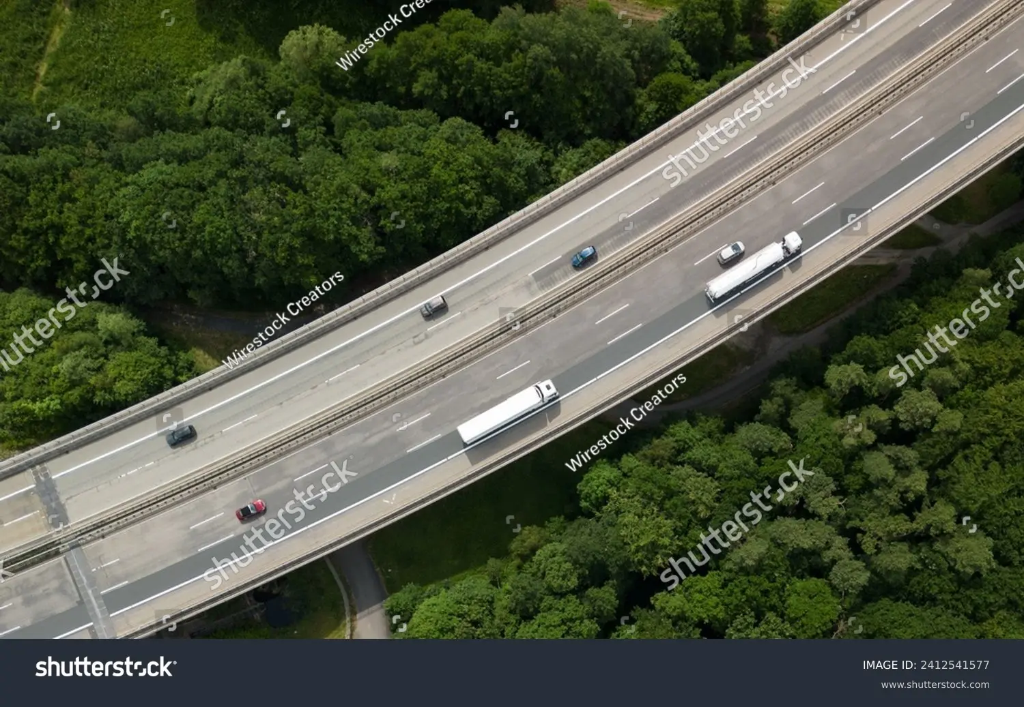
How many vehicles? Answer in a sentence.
The photo contains 7 vehicles.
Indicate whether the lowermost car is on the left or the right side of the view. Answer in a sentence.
The lowermost car is on the left side of the image.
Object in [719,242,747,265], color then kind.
white car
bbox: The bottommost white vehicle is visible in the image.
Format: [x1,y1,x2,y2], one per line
[457,377,560,445]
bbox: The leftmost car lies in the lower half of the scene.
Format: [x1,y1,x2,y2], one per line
[166,425,198,447]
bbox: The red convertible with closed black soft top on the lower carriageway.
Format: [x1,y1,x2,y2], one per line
[238,500,266,520]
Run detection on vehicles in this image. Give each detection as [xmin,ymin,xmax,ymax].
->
[705,230,803,303]
[719,242,747,265]
[166,425,198,447]
[570,246,598,268]
[457,377,560,445]
[419,296,450,320]
[238,500,266,520]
